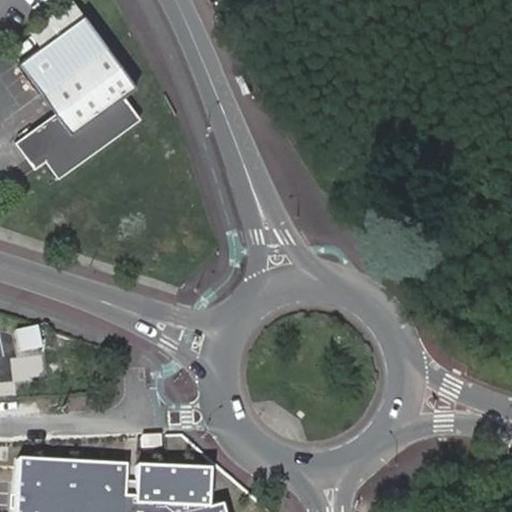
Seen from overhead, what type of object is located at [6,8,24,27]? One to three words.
car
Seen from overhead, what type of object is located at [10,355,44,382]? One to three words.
shed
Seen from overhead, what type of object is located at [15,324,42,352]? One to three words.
shed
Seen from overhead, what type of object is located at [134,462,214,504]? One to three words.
building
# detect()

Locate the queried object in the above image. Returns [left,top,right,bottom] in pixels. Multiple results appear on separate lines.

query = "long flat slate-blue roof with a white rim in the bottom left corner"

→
[9,456,130,512]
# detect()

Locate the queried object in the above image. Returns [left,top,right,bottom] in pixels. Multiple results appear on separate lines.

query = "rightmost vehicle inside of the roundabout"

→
[390,398,402,418]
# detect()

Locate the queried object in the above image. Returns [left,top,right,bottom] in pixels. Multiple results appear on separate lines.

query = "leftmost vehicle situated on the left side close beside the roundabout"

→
[191,361,206,380]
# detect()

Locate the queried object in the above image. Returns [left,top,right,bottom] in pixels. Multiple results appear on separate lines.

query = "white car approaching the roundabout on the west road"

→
[134,320,158,338]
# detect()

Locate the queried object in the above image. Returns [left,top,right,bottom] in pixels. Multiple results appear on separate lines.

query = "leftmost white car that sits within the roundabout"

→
[232,398,245,418]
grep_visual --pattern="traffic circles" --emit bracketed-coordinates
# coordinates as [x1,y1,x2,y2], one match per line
[206,266,424,484]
